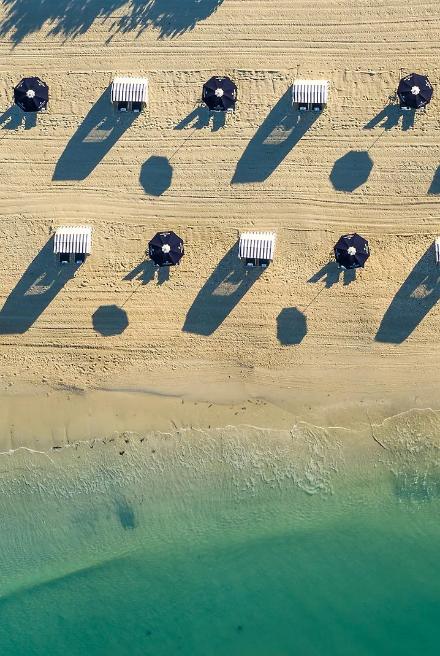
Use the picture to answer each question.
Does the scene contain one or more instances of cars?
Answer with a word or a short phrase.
No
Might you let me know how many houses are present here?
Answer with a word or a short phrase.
0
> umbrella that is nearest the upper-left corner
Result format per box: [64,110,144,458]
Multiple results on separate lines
[15,77,48,112]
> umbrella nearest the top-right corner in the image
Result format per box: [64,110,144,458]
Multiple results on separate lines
[397,74,433,109]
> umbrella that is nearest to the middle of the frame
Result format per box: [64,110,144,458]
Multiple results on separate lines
[149,231,184,266]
